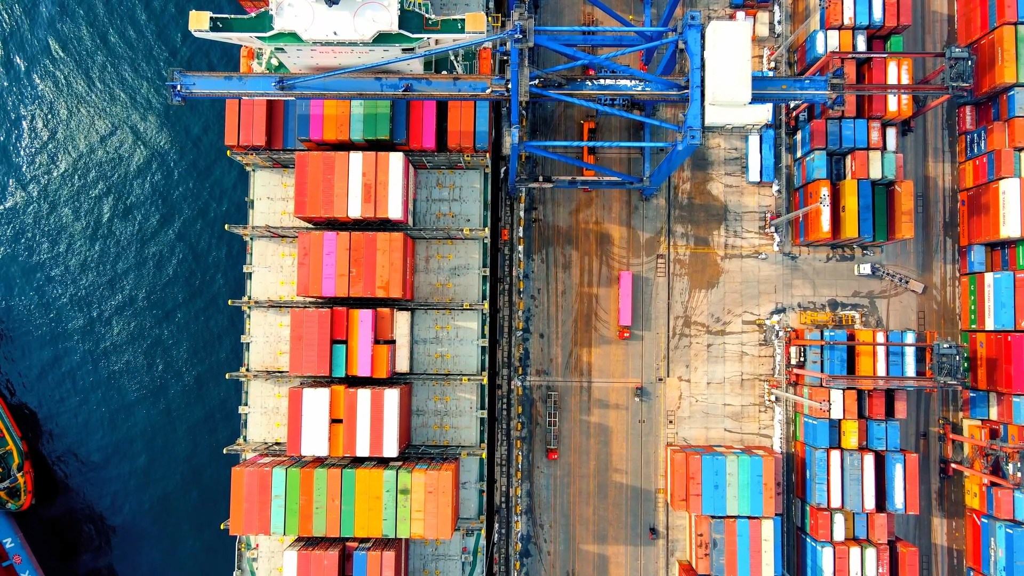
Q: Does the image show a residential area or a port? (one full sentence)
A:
This looks like a port.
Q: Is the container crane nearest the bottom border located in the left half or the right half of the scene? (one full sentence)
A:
The container crane nearest the bottom border appears in the right half of the scene.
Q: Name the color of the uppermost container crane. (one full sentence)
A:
In this view, the uppermost container crane is blue.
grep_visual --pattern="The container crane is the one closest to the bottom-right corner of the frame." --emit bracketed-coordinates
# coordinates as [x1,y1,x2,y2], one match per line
[948,424,1024,501]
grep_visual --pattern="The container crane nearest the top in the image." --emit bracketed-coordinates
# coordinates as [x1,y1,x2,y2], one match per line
[531,0,679,60]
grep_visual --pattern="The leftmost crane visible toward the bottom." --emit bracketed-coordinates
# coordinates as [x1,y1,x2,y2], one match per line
[791,328,970,395]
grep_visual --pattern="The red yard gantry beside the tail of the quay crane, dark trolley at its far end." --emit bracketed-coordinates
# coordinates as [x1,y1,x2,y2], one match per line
[789,46,978,128]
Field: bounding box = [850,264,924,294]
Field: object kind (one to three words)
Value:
truck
